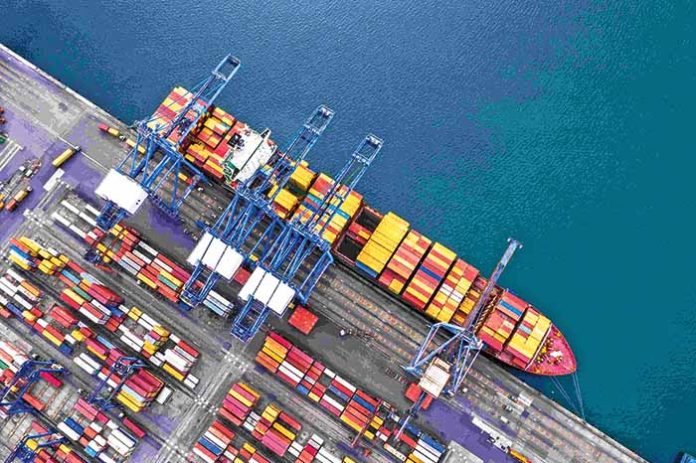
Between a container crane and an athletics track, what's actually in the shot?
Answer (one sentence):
This aerial view contains a container crane.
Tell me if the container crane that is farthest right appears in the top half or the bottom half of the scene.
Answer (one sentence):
The bottom half of the photo is where the container crane that is farthest right is.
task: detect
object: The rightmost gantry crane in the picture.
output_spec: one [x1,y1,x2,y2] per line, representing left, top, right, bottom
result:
[392,238,523,453]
